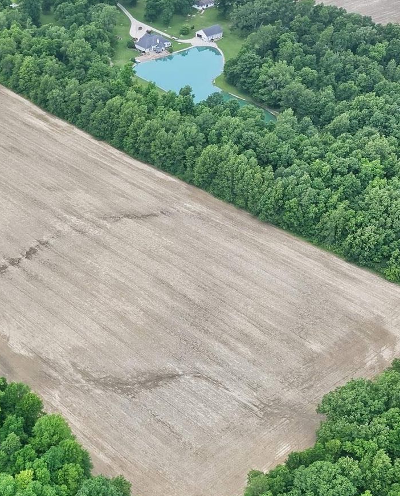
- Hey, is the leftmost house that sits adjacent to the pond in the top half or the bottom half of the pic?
top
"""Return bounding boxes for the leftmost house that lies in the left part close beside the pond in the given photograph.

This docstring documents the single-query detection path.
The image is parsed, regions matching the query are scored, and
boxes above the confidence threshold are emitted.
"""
[132,32,171,54]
